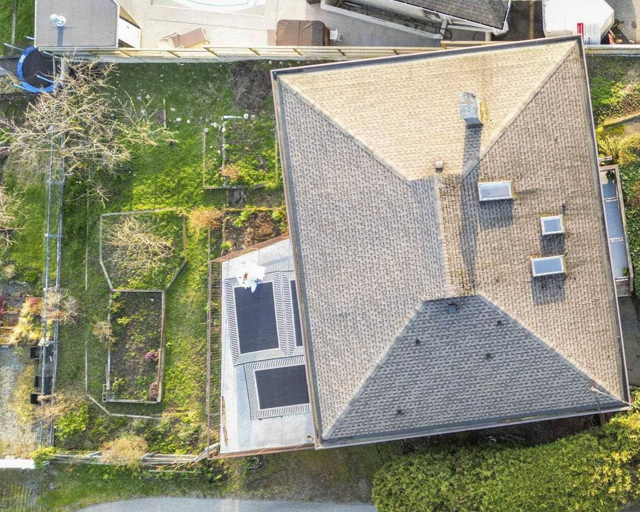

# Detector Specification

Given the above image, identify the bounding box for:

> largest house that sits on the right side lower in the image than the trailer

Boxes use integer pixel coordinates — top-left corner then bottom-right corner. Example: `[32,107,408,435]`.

[271,36,632,447]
